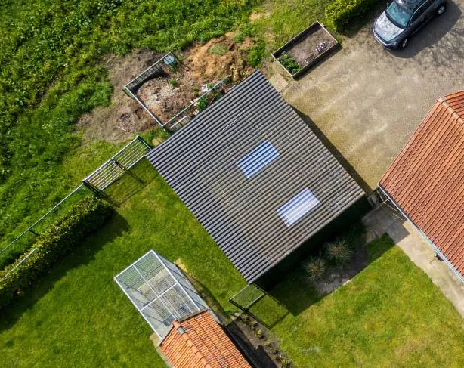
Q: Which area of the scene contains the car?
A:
top right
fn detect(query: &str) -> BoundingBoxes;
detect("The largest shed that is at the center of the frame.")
[146,66,368,288]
